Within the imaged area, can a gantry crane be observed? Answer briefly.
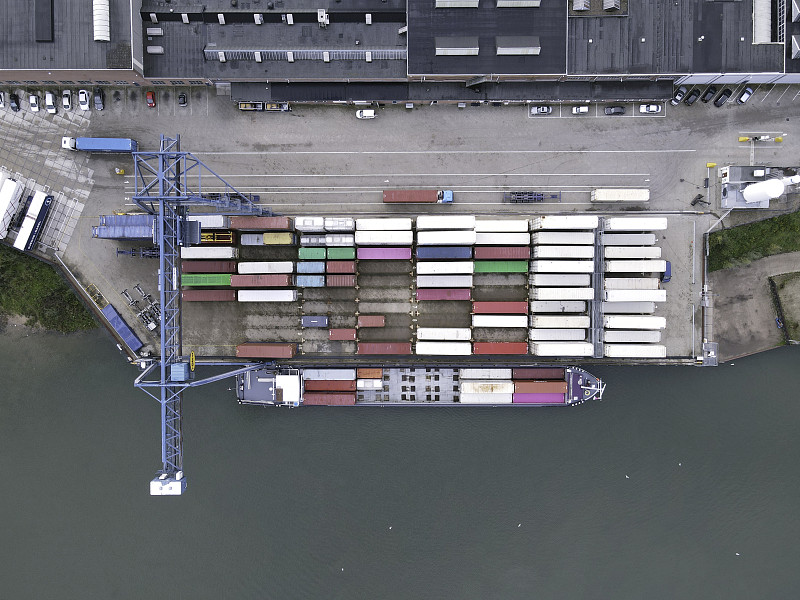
Yes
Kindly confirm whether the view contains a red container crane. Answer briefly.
No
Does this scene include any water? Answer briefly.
Yes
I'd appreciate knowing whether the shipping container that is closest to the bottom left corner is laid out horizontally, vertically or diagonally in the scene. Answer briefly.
diagonally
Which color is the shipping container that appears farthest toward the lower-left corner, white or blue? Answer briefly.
blue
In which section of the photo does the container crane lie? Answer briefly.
left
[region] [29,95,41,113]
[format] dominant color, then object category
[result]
white vehicle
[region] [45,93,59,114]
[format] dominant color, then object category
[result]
white vehicle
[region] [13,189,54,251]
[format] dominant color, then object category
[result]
white trailer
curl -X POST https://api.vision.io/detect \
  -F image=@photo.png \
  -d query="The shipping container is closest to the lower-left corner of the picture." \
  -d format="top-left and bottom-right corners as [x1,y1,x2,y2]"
[102,303,148,352]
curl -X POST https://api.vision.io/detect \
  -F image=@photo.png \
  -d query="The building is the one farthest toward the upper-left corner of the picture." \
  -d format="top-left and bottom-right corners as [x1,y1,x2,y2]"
[0,0,151,85]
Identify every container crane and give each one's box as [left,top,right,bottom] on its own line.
[130,133,278,495]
